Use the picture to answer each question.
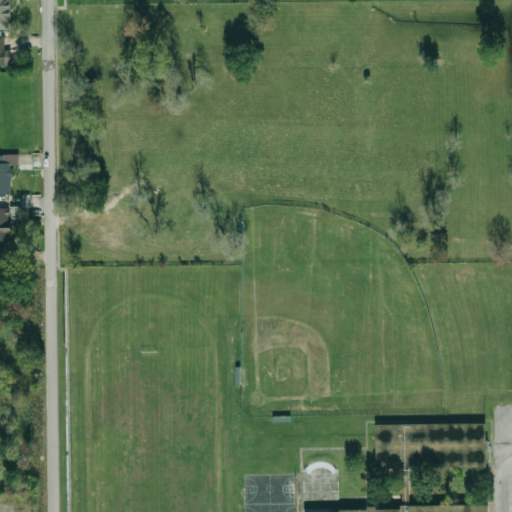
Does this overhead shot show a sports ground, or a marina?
sports ground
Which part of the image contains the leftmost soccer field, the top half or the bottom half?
bottom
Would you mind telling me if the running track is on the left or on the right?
left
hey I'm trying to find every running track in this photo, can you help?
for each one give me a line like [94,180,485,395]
[80,292,224,512]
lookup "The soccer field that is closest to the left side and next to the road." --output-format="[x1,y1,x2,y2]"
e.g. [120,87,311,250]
[89,300,215,512]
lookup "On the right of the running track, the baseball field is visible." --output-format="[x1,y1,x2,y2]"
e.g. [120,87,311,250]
[242,204,444,416]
